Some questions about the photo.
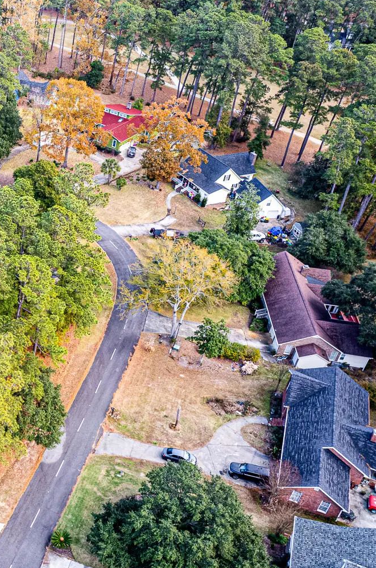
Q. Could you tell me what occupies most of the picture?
trees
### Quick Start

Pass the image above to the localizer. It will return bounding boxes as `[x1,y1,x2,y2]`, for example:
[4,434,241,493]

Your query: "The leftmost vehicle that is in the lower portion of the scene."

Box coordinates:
[160,445,200,469]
